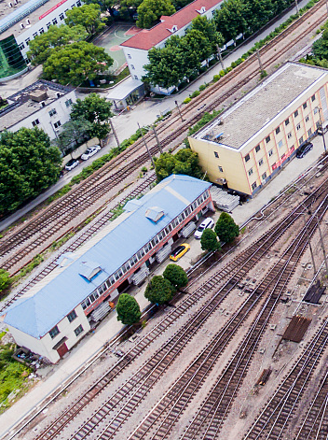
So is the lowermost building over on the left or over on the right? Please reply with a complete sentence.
The lowermost building appears in the left half of the scene.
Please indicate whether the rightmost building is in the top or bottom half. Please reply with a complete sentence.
The rightmost building sits in the top half of the picture.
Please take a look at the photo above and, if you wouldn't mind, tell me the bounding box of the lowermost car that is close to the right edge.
[294,141,313,157]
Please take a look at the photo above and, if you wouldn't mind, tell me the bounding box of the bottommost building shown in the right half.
[190,57,328,194]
